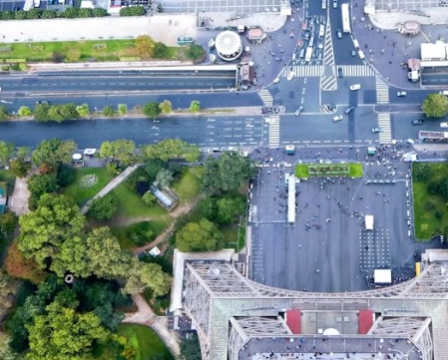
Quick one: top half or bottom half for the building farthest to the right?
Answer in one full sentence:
The building farthest to the right sits in the top half of the picture.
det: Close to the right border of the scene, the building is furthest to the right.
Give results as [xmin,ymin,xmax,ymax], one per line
[421,40,448,60]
